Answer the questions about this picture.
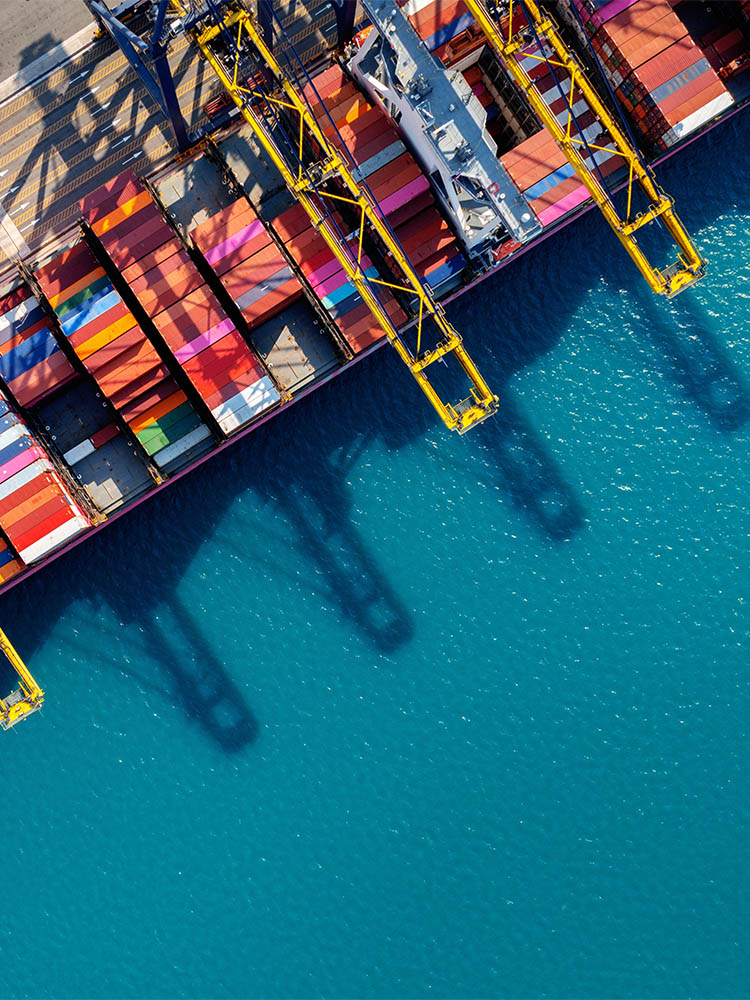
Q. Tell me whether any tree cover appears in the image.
No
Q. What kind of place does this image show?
port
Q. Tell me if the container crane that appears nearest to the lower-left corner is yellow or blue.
yellow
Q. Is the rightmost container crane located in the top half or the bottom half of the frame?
top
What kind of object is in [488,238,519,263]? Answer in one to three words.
boat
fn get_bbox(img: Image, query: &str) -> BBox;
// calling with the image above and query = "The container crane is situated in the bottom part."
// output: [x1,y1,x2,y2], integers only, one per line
[0,618,49,737]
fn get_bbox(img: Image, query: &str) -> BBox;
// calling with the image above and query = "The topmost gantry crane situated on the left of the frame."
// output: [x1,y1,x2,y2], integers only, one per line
[85,0,505,440]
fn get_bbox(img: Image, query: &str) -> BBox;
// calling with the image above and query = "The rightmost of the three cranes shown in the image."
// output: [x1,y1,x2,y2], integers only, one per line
[324,0,715,307]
